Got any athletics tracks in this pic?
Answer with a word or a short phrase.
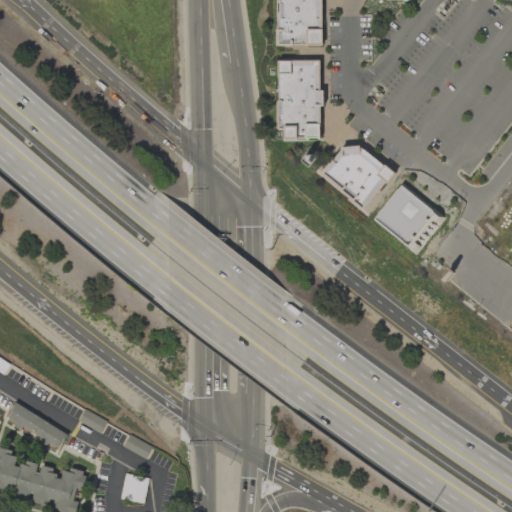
No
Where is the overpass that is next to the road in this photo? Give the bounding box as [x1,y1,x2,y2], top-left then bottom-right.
[154,185,304,418]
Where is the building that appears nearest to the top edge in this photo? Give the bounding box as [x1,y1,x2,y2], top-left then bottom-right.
[276,0,323,47]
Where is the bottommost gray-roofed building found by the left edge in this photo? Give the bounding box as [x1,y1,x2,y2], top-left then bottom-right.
[0,446,86,512]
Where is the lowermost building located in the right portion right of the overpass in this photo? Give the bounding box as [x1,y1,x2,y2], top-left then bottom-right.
[374,186,446,254]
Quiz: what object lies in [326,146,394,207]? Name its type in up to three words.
building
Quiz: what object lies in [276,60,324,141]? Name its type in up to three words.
building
